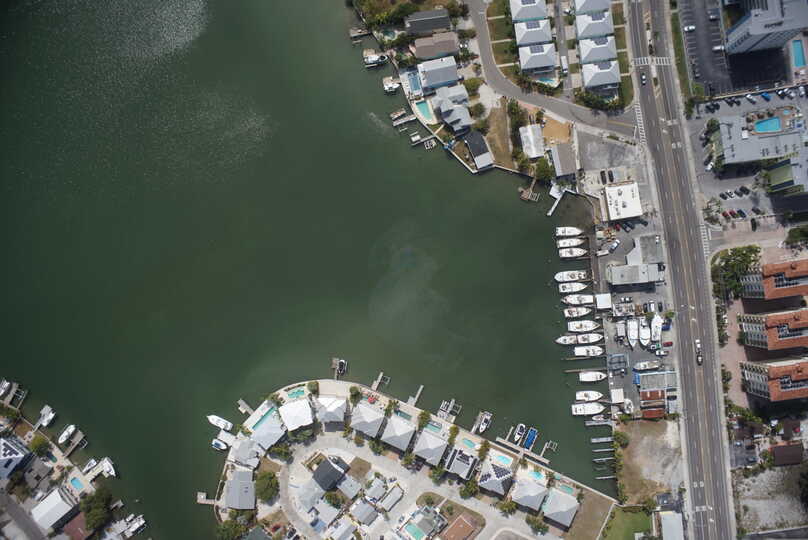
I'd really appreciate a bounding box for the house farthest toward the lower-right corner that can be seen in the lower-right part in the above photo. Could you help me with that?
[771,440,804,465]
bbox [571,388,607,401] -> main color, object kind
white boat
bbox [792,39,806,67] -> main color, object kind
blue swimming pool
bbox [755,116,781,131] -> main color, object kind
blue swimming pool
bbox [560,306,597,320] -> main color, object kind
white boat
